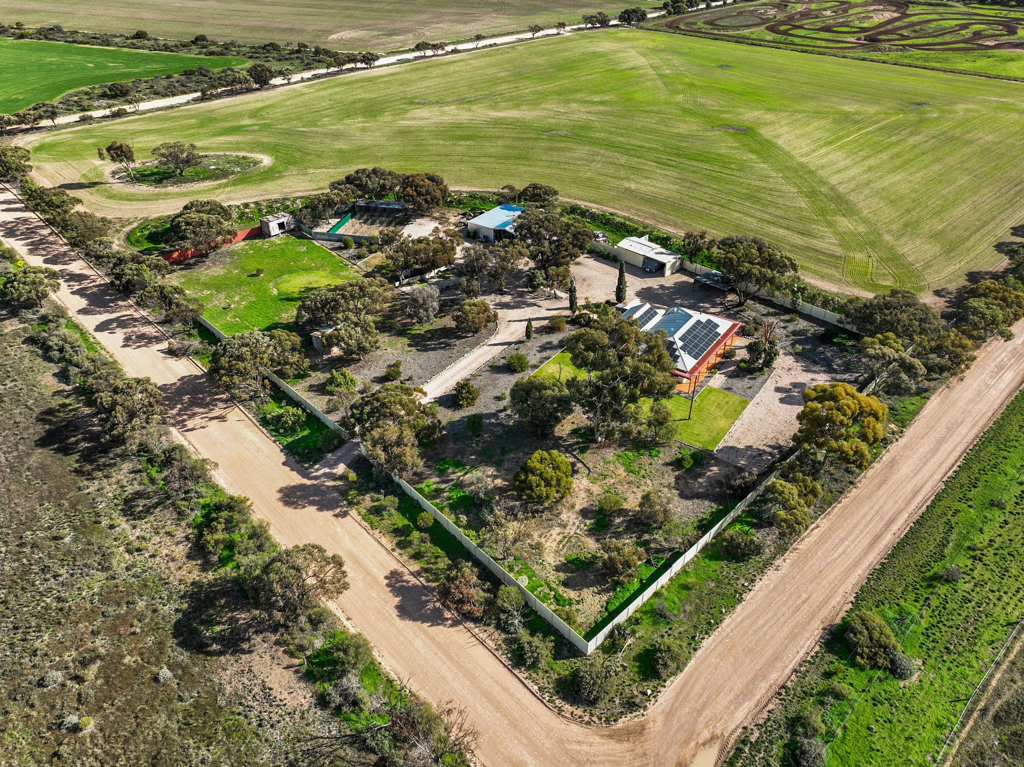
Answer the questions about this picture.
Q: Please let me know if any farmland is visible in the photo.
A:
Yes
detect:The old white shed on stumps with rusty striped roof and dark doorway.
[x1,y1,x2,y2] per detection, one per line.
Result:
[257,212,293,235]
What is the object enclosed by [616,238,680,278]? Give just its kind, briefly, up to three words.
shed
